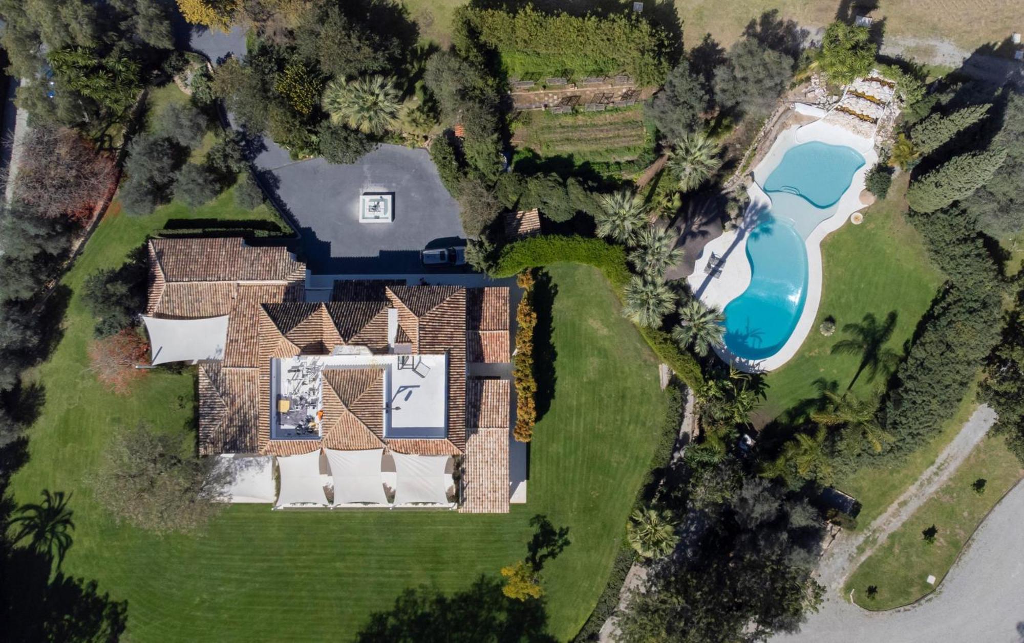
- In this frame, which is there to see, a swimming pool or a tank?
swimming pool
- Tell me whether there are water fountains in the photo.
Yes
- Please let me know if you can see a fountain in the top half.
Yes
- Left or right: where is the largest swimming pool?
right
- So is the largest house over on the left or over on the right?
left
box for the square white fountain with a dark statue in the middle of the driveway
[358,194,392,222]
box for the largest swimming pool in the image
[688,120,880,373]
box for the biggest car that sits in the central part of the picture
[421,246,465,268]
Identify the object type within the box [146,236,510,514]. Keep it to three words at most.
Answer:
house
